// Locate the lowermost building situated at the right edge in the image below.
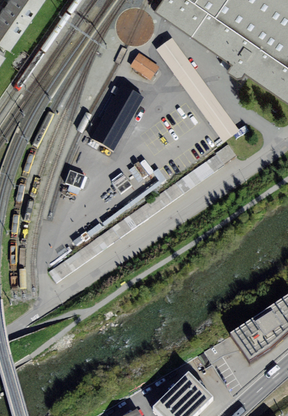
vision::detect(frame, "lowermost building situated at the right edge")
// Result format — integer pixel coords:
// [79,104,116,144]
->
[230,294,288,362]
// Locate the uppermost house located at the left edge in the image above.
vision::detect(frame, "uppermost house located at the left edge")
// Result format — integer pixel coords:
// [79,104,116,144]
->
[0,0,46,56]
